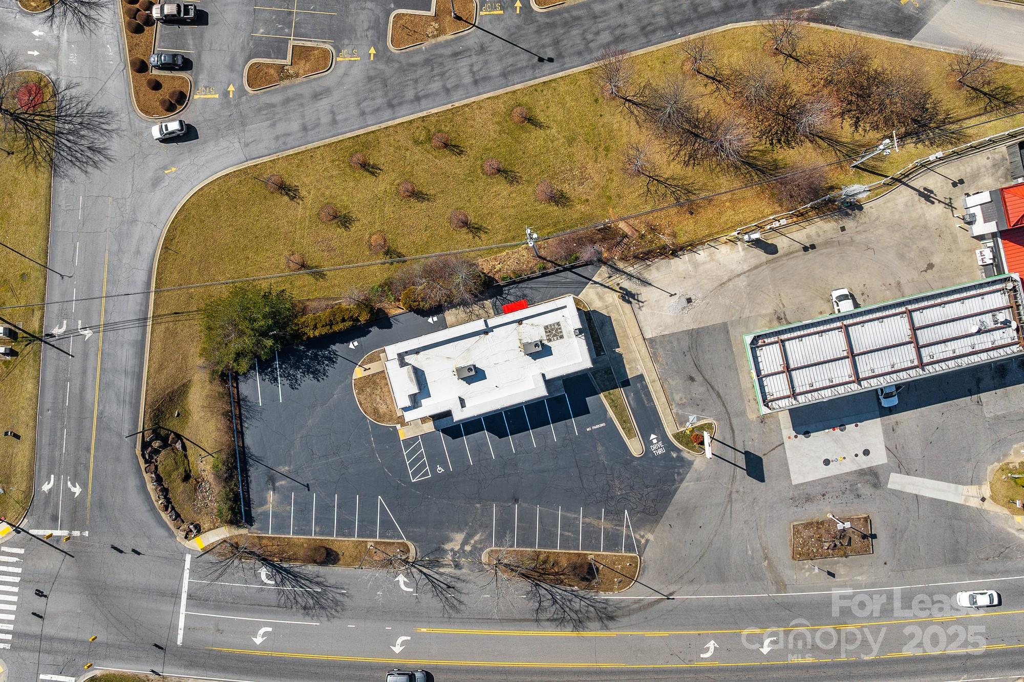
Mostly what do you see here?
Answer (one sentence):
For the most part, this view shows paved ground.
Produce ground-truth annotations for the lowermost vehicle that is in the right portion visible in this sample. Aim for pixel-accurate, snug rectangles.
[954,587,997,609]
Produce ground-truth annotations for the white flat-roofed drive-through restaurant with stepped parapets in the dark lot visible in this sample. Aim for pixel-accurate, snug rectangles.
[384,295,592,422]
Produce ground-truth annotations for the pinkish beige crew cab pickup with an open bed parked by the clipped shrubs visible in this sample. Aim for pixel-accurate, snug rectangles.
[152,0,199,23]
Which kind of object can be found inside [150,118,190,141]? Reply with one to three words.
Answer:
car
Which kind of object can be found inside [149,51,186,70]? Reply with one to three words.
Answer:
car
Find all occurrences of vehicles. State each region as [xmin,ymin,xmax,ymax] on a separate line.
[150,118,190,141]
[152,0,199,23]
[829,285,853,312]
[954,587,997,609]
[385,668,427,682]
[877,384,903,410]
[149,51,186,70]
